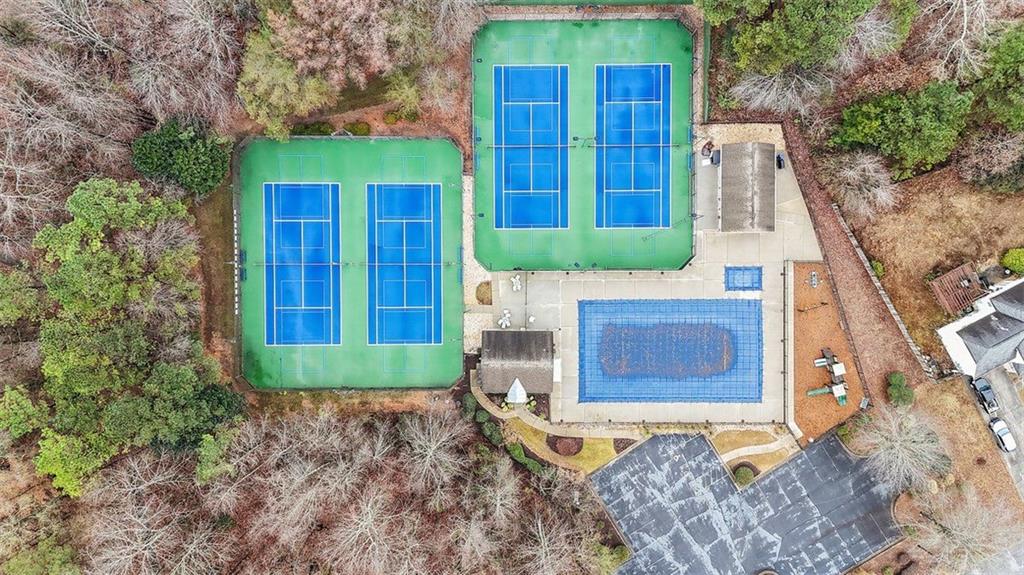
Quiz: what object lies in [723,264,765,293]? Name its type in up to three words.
swimming pool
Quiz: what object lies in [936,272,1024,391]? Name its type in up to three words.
house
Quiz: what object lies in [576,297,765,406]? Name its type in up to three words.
swimming pool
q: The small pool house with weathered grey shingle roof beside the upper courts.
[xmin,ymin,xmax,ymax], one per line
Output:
[719,140,776,232]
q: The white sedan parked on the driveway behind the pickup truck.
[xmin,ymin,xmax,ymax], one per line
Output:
[991,419,1016,454]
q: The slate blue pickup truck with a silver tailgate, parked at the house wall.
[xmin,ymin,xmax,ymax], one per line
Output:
[970,378,1003,416]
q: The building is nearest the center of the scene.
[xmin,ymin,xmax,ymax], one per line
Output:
[480,329,554,405]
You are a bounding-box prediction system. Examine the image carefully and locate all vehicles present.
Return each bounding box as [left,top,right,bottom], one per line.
[970,378,1003,416]
[991,419,1016,454]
